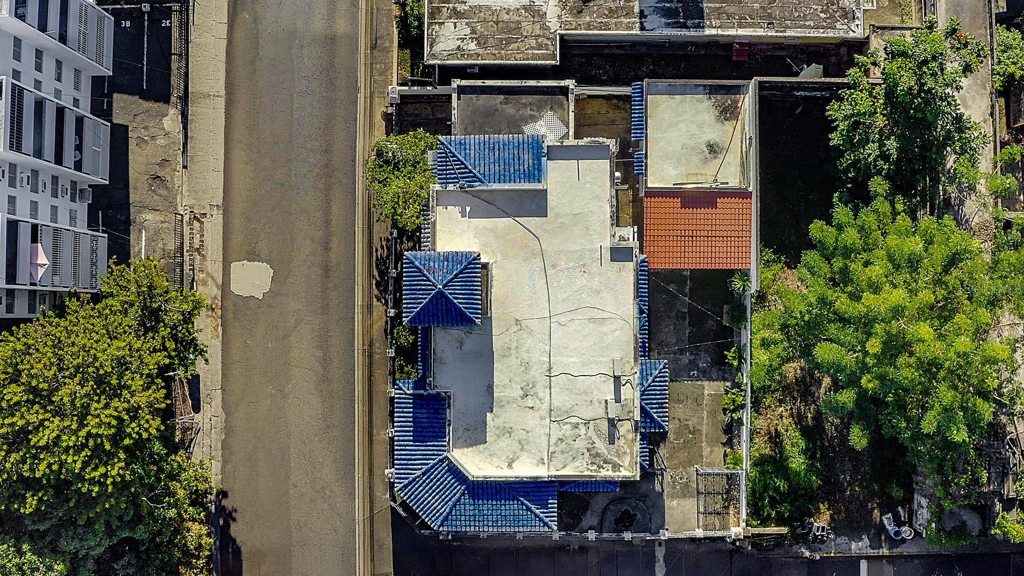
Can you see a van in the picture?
No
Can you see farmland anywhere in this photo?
No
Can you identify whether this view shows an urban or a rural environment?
urban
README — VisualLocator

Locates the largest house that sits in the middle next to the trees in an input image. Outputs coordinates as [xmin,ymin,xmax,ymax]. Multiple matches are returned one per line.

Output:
[393,134,669,532]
